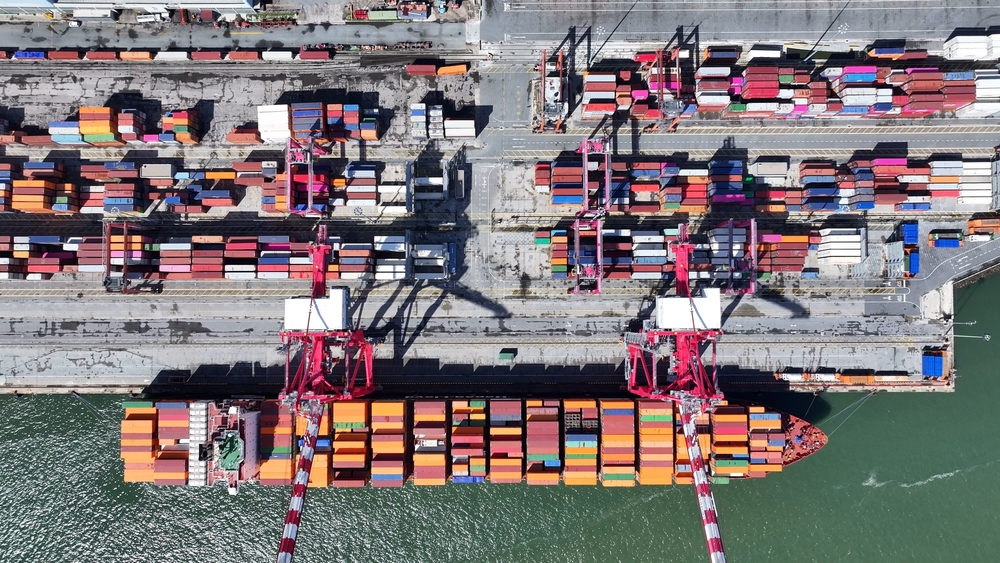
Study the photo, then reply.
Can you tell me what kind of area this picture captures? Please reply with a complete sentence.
The area seen from above is a port.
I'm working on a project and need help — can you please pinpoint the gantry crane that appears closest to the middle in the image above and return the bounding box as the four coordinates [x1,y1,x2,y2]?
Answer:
[558,221,605,295]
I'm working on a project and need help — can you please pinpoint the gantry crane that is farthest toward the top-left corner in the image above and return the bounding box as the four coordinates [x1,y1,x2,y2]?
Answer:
[104,222,169,295]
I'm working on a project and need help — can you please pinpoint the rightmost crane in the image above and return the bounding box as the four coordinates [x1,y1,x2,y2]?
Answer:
[699,220,758,295]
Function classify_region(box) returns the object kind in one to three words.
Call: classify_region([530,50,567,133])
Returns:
container crane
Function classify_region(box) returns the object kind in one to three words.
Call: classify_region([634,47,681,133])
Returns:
container crane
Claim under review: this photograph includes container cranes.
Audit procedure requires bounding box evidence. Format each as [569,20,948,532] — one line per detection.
[634,47,681,133]
[273,226,384,563]
[104,222,169,295]
[558,221,605,295]
[618,226,729,563]
[530,50,567,133]
[286,139,339,218]
[565,139,612,218]
[699,220,758,295]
